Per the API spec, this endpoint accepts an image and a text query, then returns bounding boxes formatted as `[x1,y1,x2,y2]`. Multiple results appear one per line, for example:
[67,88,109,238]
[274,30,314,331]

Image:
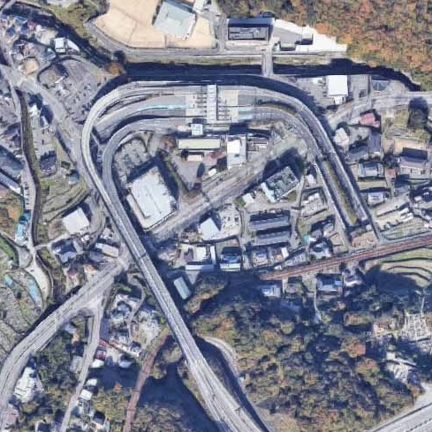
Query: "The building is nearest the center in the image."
[198,218,223,242]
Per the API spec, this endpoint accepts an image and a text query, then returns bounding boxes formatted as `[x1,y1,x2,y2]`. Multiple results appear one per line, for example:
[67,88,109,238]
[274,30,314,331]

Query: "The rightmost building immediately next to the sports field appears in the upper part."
[227,20,271,45]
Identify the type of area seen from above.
residential area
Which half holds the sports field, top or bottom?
top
